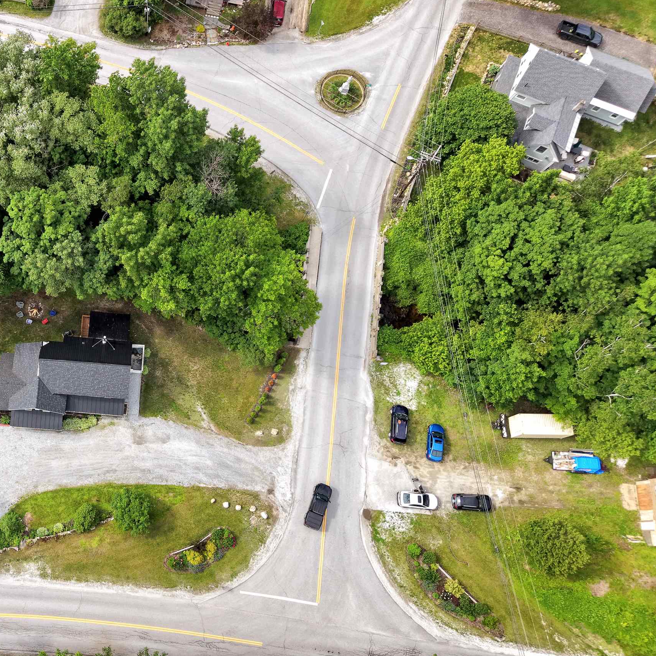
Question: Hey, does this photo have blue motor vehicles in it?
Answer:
Yes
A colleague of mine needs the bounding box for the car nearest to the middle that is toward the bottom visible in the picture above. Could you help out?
[388,406,410,445]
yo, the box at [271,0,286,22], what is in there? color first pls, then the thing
red car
